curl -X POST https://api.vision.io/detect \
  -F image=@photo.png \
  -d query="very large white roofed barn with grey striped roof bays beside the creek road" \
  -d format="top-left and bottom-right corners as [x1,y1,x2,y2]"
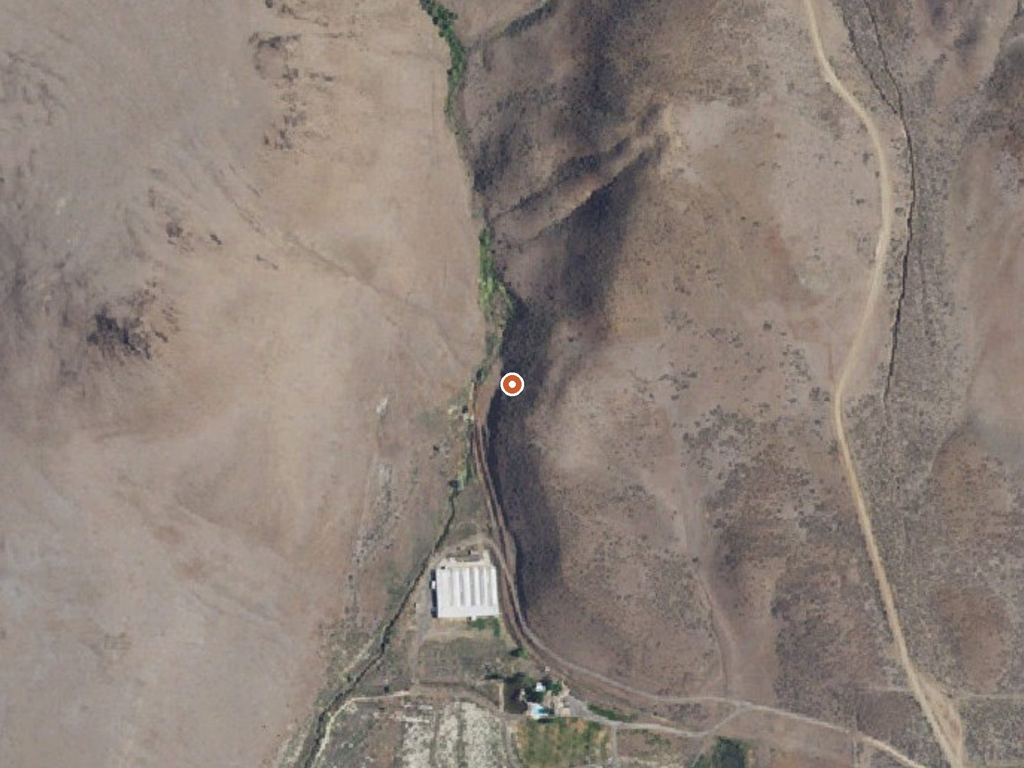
[432,564,500,620]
